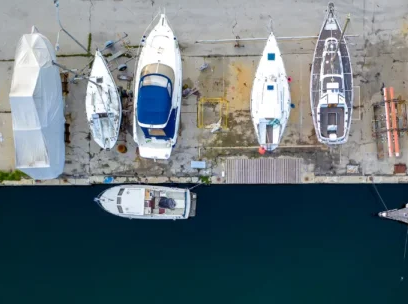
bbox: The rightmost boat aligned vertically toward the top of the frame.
[310,0,352,146]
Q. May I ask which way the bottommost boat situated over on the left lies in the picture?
from side to side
